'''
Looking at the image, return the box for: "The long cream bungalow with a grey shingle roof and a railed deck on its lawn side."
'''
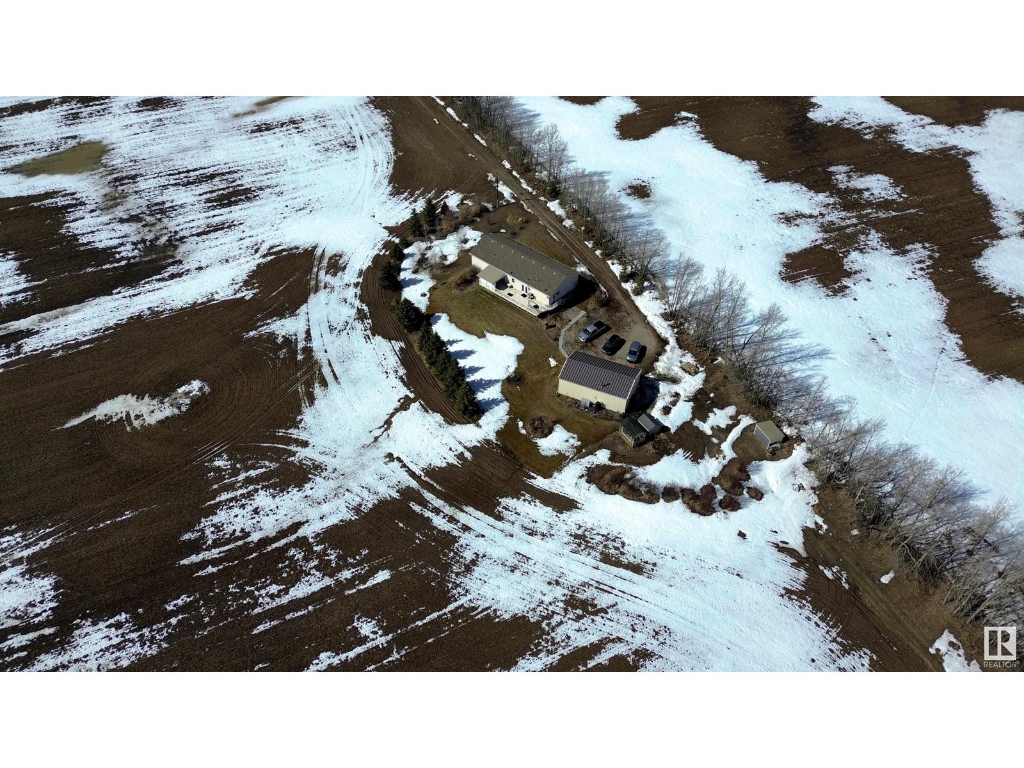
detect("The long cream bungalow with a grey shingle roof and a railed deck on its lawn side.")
[468,234,581,319]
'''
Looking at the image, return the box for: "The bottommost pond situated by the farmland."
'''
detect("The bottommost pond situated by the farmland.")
[12,136,111,180]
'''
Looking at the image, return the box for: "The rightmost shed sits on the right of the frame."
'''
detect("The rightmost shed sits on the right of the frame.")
[751,420,786,453]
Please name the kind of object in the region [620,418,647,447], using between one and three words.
greenhouse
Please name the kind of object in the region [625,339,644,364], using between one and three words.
car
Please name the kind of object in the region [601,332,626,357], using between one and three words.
car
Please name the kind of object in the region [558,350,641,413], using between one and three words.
building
